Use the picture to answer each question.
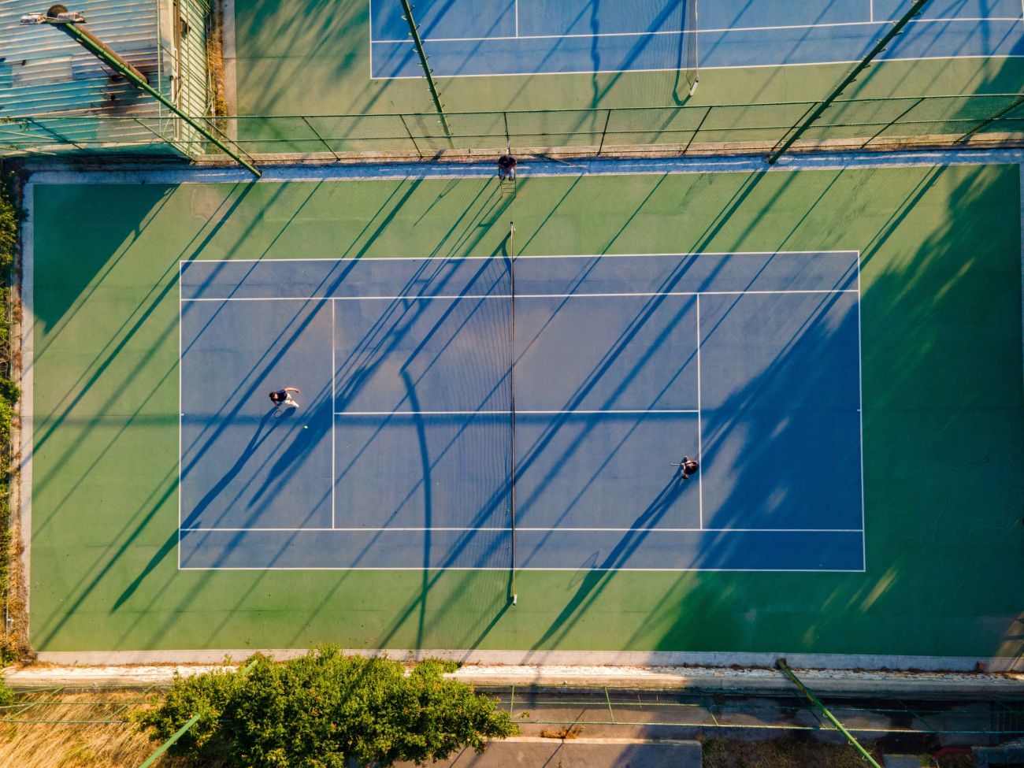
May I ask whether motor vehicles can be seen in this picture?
No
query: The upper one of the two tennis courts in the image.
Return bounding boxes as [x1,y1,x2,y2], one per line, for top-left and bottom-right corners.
[237,0,1024,149]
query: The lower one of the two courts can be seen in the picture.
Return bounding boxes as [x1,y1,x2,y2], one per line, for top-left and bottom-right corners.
[30,166,1024,658]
